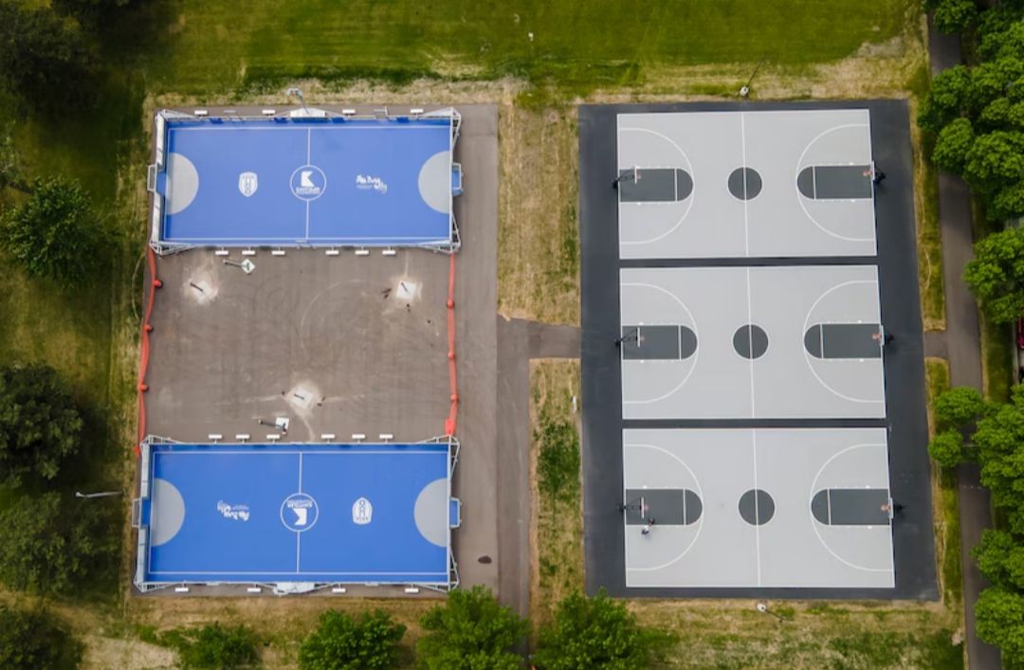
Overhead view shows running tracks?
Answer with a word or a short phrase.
No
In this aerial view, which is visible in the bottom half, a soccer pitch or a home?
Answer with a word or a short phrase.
soccer pitch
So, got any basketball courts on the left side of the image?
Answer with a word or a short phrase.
No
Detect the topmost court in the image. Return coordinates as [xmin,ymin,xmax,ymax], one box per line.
[617,109,877,259]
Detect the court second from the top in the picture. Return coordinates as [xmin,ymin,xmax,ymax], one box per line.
[620,265,886,420]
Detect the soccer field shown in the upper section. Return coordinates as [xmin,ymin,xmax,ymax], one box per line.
[144,87,463,258]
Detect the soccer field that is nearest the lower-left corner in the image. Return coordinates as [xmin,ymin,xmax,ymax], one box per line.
[129,431,462,601]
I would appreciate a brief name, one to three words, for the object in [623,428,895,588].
basketball court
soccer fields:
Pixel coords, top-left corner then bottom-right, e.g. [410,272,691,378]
[129,431,462,601]
[144,87,463,258]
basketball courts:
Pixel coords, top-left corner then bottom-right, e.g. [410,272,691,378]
[620,265,886,420]
[623,428,895,588]
[617,109,877,259]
